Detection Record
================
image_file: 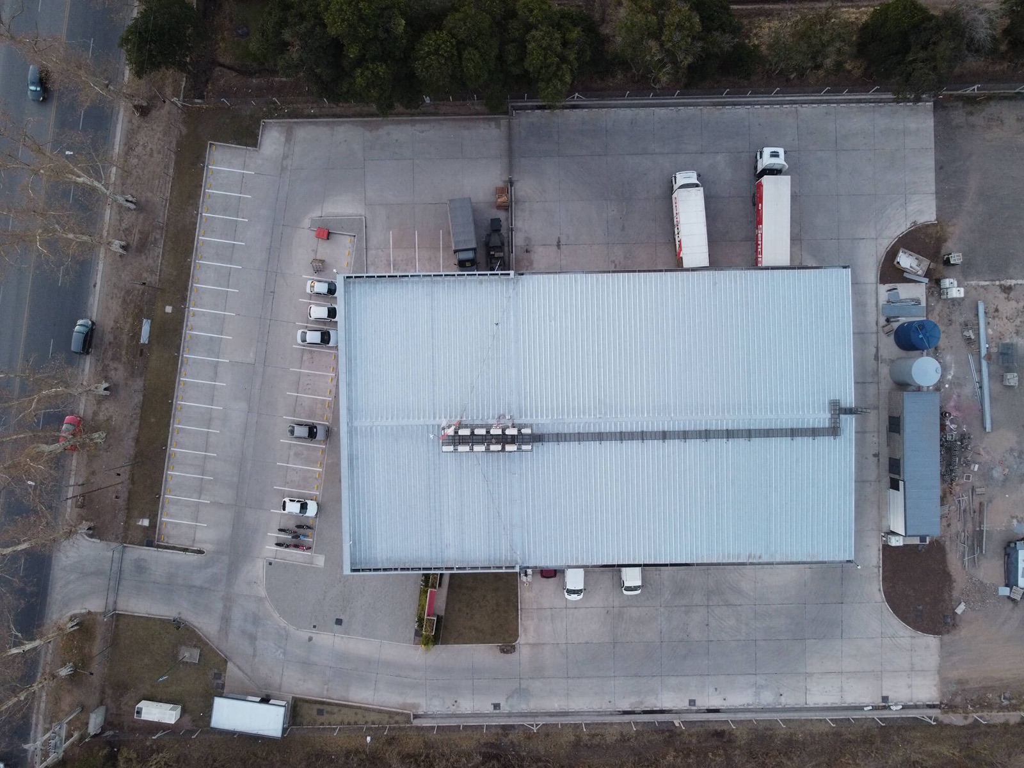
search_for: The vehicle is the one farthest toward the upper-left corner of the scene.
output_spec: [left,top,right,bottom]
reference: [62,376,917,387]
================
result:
[22,61,46,101]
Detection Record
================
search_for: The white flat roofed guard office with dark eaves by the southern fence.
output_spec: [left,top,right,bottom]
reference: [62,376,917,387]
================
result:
[210,679,291,737]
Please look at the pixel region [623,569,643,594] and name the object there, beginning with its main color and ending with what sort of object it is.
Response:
white vehicle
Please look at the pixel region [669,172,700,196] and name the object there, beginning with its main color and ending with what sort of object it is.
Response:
white truck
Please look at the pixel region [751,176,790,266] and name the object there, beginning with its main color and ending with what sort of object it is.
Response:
white trailer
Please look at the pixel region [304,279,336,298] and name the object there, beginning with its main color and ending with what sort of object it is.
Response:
white car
